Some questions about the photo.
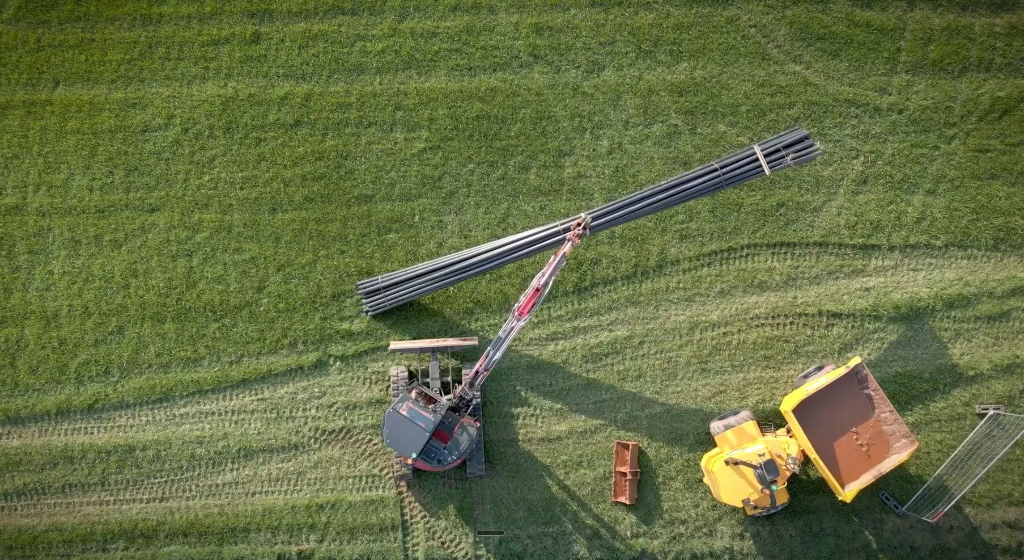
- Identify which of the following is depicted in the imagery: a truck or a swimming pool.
truck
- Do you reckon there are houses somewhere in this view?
No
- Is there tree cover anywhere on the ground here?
No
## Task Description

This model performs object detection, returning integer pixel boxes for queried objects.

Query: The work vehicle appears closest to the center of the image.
[382,209,593,481]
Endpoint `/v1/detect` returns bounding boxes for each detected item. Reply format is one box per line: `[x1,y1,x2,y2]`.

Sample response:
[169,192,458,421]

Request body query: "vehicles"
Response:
[382,209,593,481]
[698,356,918,514]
